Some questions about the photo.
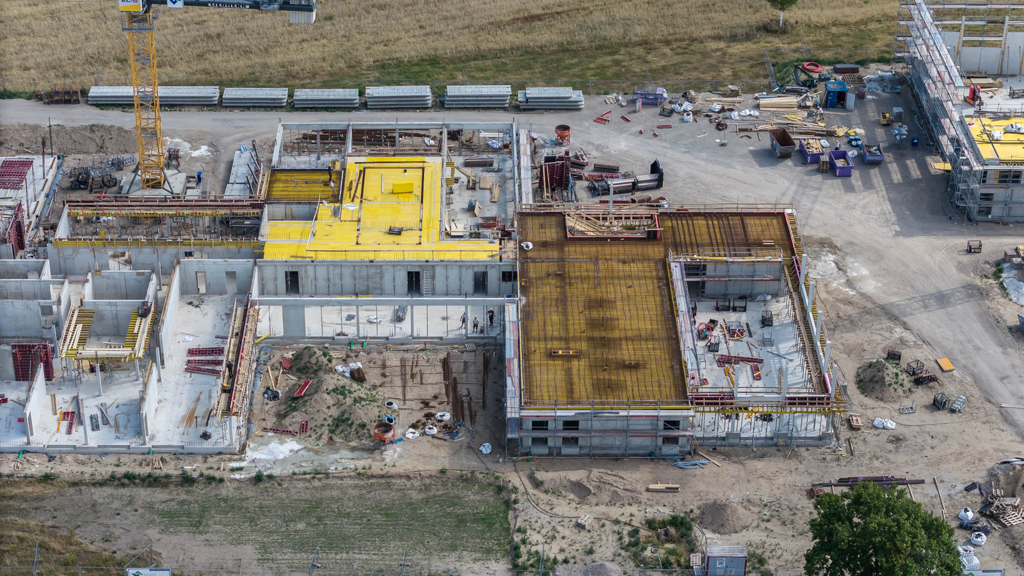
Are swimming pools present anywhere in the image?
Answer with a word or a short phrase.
No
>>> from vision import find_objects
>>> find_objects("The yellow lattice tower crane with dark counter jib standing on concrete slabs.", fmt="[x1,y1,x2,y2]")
[101,0,307,188]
